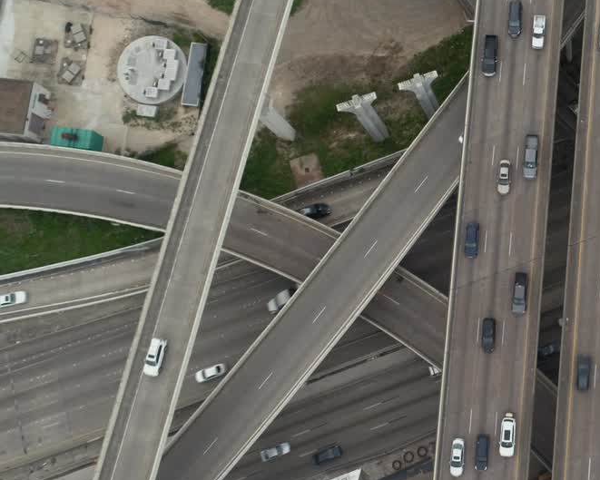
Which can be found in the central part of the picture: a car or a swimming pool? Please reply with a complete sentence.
Visible in the central part of the picture is a car.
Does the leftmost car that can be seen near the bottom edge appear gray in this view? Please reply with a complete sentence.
Yes, the leftmost car that can be seen near the bottom edge appears gray.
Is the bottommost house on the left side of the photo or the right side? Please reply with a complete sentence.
You can find the bottommost house on the left side of the picture.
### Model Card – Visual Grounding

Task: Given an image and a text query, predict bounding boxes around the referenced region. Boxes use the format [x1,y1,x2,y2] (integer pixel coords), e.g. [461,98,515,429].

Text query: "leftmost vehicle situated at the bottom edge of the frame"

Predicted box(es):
[260,441,291,462]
